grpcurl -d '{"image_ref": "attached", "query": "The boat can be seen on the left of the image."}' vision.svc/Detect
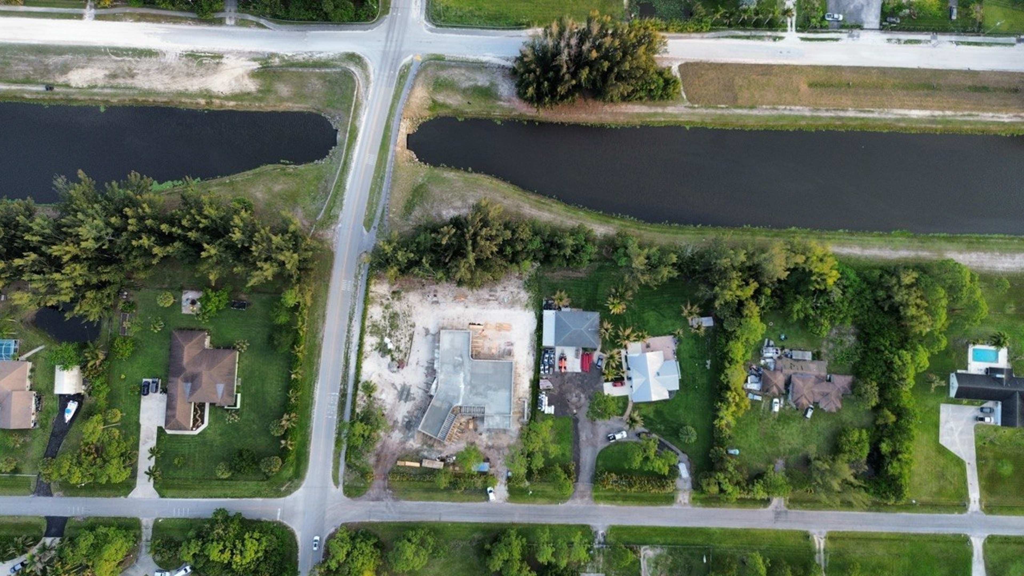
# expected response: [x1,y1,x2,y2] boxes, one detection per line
[64,400,79,424]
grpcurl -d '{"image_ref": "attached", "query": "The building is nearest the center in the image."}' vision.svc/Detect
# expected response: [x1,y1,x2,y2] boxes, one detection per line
[542,310,600,348]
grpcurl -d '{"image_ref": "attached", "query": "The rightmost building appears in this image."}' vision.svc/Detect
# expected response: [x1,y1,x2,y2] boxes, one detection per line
[950,367,1024,427]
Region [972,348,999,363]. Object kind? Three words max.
swimming pool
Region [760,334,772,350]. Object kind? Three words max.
vehicle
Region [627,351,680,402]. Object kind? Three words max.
house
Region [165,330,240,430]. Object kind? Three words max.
house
